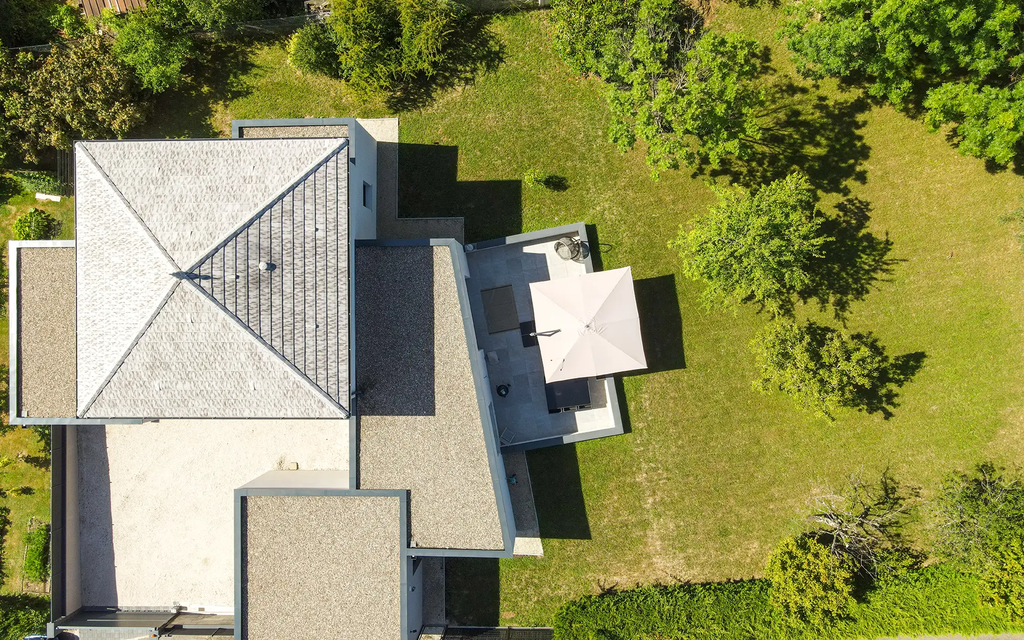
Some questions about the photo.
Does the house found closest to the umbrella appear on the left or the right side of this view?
left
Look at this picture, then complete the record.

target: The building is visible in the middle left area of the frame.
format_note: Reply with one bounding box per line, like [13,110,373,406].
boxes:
[9,118,516,640]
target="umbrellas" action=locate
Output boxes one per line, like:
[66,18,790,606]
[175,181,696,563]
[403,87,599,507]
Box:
[518,266,647,383]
